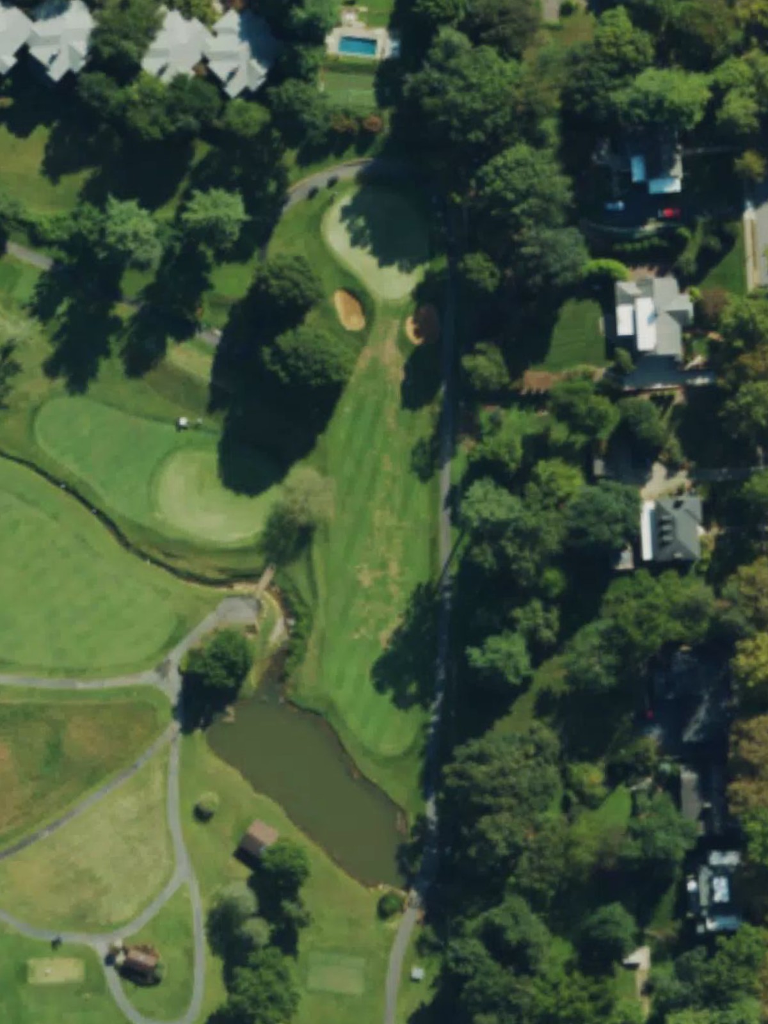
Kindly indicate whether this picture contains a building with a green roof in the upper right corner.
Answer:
No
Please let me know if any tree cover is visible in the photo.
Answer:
Yes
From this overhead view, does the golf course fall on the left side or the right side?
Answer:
left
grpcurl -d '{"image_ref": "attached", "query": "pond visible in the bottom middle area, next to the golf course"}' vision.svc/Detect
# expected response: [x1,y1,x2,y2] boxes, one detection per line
[207,668,411,888]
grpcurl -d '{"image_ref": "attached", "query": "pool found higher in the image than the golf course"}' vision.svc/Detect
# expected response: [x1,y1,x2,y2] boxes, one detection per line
[339,38,375,53]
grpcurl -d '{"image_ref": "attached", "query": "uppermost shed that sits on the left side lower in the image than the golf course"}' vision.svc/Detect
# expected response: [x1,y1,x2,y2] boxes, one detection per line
[235,818,272,855]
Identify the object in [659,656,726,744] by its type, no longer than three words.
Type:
house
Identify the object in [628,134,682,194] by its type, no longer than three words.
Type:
house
